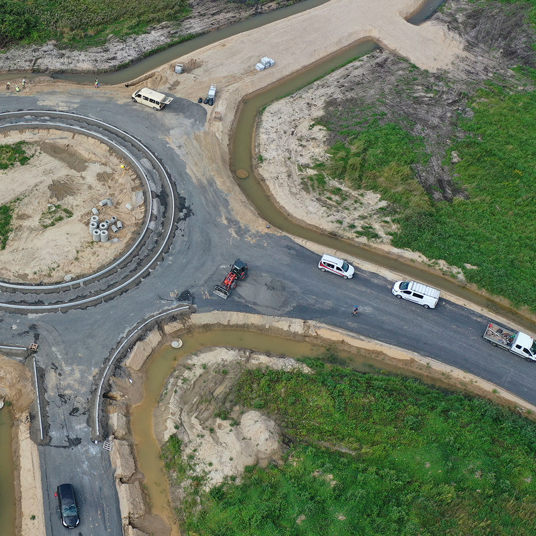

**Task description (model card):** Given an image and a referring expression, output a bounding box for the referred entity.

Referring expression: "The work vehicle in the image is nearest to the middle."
[213,265,241,298]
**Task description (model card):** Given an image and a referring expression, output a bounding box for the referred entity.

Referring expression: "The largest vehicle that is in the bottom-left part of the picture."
[56,484,81,528]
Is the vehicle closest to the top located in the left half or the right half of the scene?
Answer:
left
